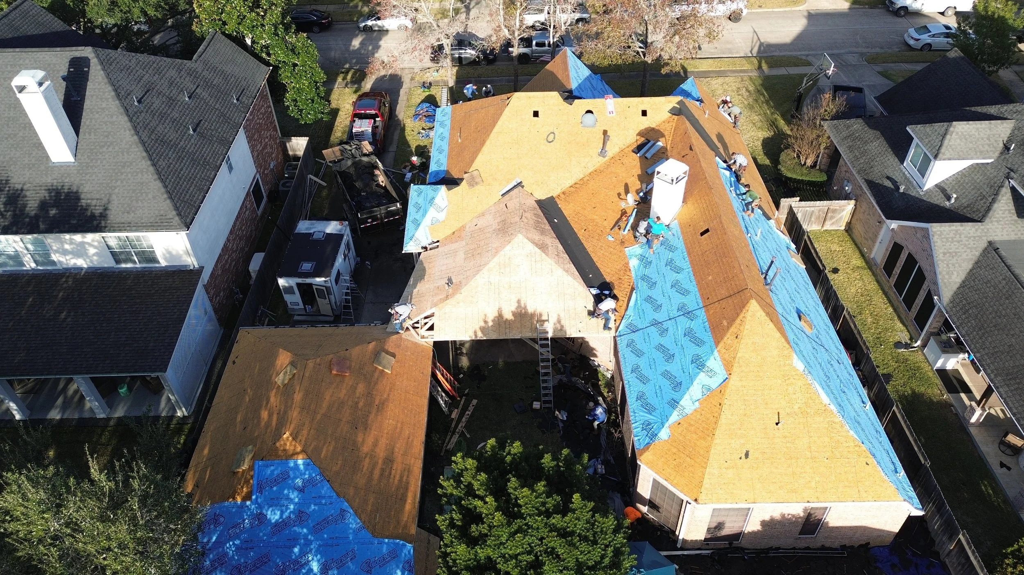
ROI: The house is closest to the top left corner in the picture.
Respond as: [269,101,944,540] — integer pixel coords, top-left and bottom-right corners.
[0,0,281,422]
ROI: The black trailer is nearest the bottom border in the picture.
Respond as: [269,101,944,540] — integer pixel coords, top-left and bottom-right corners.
[280,220,359,324]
